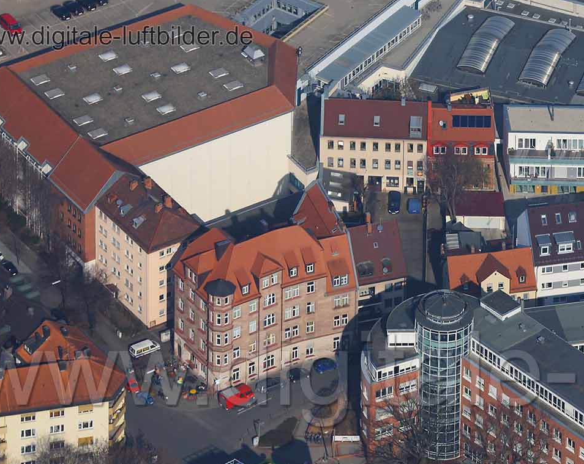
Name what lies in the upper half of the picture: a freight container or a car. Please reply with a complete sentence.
What appears in the upper half of the picture is a car.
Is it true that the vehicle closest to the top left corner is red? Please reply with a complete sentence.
Yes, the vehicle closest to the top left corner is indeed red.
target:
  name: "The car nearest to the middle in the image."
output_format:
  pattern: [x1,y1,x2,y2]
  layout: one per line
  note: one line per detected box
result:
[387,192,400,214]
